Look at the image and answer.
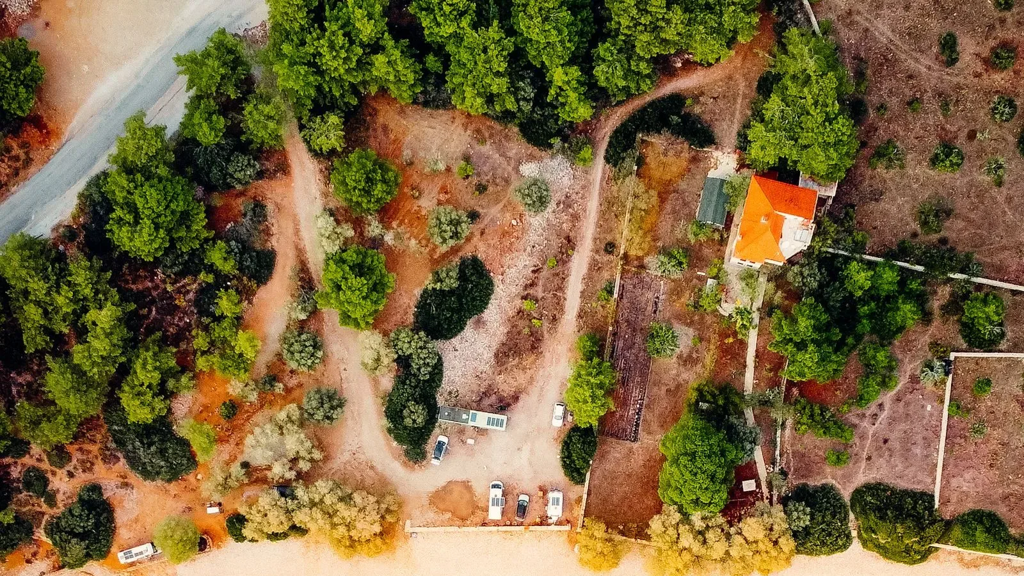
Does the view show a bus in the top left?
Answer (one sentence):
No, in the top left there is no bus.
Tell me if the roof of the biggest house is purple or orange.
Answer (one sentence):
The roof of the biggest house is orange.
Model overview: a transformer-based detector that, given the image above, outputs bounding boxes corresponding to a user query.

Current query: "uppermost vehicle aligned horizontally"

[437,403,509,430]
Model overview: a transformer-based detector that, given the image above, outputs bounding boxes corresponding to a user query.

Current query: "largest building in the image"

[725,175,819,269]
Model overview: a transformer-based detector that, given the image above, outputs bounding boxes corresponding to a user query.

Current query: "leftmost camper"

[116,536,166,564]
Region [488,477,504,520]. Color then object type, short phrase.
white vehicle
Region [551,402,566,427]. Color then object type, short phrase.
white car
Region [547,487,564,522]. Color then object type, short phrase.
white camper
